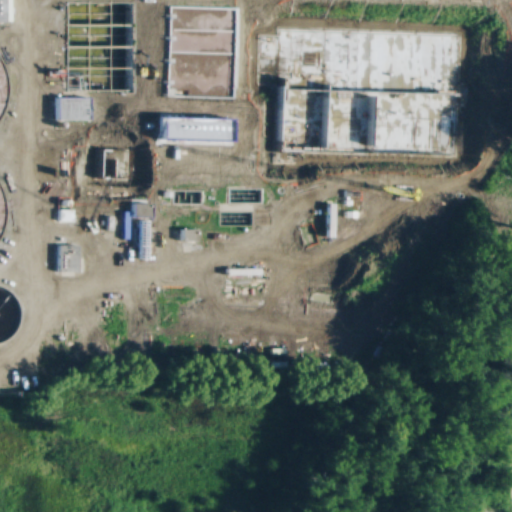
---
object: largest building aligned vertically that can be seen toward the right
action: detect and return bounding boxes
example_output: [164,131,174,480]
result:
[322,201,338,242]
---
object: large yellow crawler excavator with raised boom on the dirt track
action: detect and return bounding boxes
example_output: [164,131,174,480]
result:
[382,186,420,205]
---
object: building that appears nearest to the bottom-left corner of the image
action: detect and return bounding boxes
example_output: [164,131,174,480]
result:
[57,246,82,274]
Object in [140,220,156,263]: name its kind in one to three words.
building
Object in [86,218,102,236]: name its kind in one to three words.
vehicle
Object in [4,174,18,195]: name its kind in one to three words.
vehicle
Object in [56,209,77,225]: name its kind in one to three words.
shed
